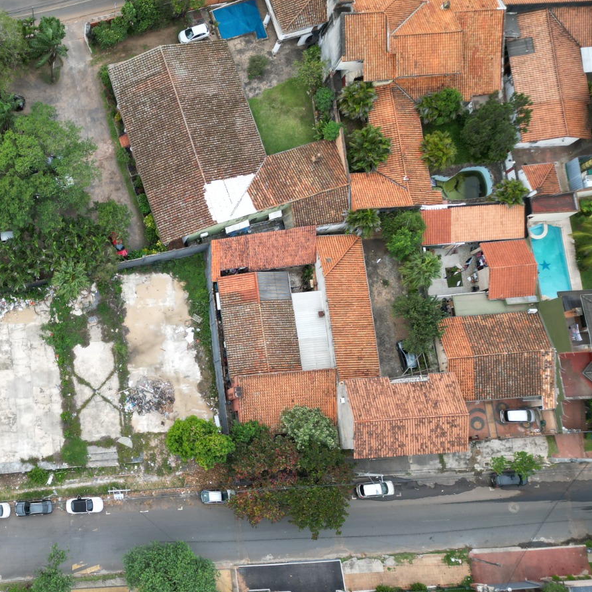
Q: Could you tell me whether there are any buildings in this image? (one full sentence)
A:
Yes, a building appears in the view.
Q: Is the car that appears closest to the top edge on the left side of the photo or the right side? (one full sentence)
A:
The car that appears closest to the top edge appears in the left half of the scene.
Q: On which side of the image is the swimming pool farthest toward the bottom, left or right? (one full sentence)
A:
The swimming pool farthest toward the bottom is on the right side of the image.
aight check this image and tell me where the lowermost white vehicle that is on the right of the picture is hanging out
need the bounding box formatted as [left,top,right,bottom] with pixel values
[355,479,395,499]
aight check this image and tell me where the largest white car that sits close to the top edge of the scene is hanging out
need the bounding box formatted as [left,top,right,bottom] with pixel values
[178,23,211,43]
